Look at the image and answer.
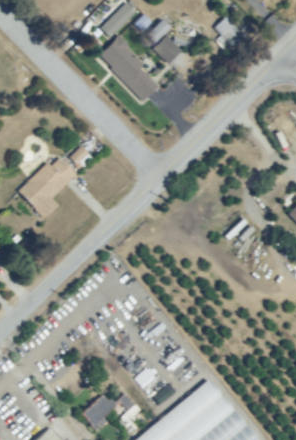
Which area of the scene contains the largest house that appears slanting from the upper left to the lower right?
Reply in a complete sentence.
The largest house that appears slanting from the upper left to the lower right is located in the top region of the scene.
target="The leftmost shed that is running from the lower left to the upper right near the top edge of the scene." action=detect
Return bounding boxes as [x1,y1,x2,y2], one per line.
[102,2,136,35]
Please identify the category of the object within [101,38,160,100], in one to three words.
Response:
house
